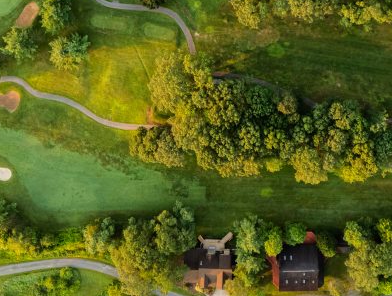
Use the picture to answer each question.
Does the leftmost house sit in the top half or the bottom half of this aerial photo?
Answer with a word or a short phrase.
bottom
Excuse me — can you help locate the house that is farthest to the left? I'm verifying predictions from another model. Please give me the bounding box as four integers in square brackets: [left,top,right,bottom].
[184,232,233,293]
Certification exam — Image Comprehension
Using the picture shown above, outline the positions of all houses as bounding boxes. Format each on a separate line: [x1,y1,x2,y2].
[184,232,233,293]
[268,230,319,290]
